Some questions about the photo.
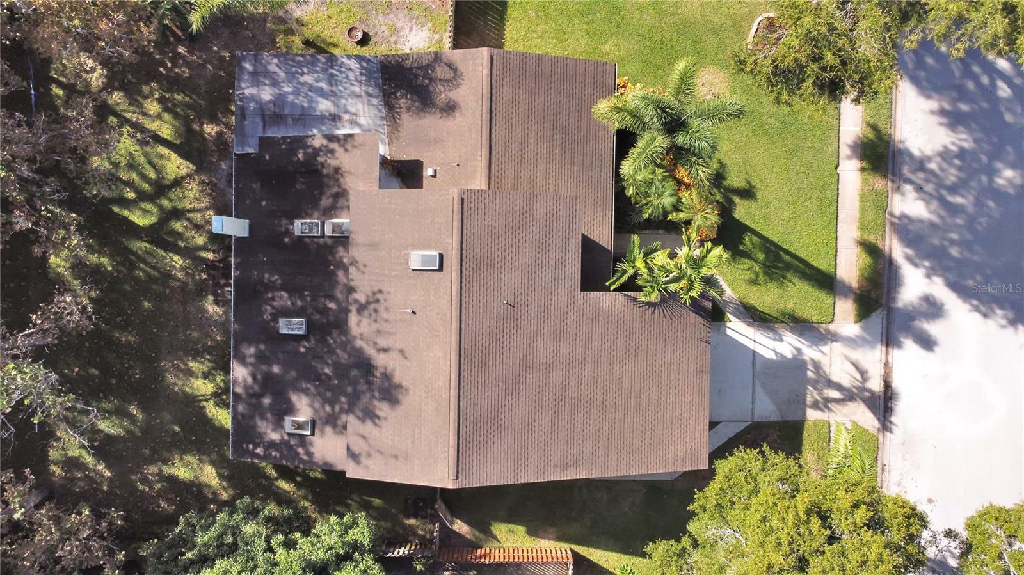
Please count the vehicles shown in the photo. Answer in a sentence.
The picture shows no vehicles.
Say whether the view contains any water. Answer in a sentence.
No, water can't be seen anywhere here.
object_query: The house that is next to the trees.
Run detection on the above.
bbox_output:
[215,46,711,490]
